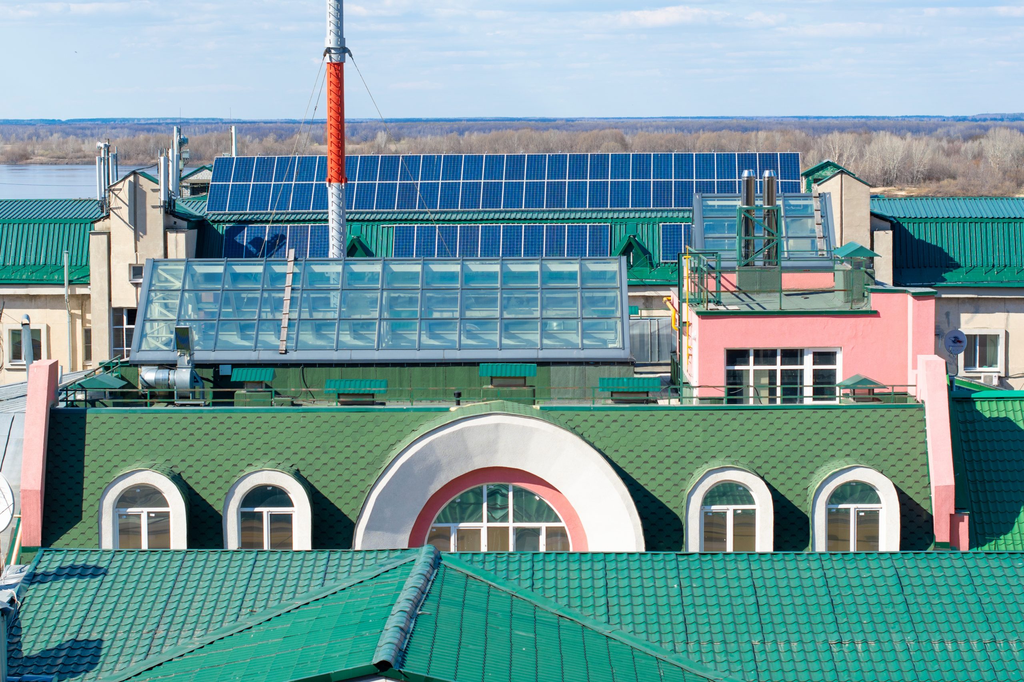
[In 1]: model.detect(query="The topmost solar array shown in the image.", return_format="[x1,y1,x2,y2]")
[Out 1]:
[208,152,800,212]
